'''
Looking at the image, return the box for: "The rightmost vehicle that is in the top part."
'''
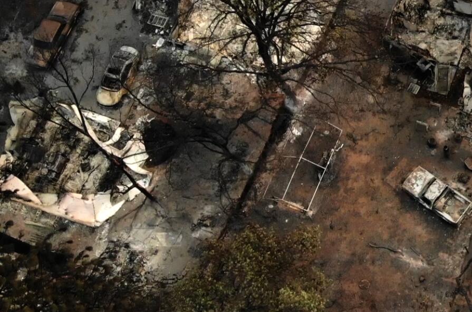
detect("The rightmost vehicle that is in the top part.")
[104,50,140,106]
